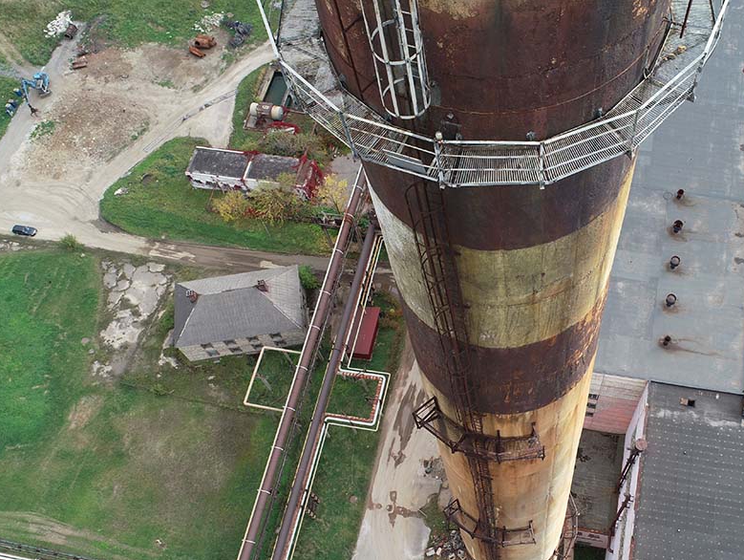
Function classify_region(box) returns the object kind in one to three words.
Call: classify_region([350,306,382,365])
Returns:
shed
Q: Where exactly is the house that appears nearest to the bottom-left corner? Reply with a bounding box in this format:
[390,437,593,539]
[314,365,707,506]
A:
[173,267,309,357]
